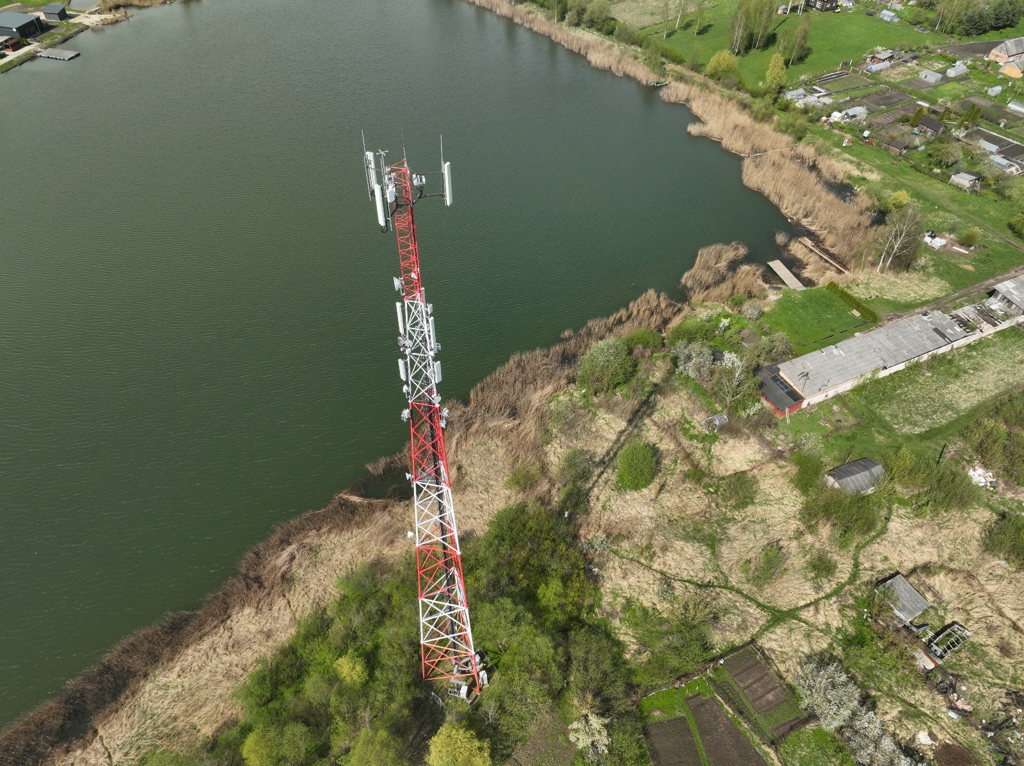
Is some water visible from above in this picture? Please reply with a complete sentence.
Yes, some water is visible.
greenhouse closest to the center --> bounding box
[701,410,729,430]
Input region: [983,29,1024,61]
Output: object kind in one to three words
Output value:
house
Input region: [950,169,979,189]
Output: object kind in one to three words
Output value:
shed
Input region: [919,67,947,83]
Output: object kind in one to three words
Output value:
greenhouse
